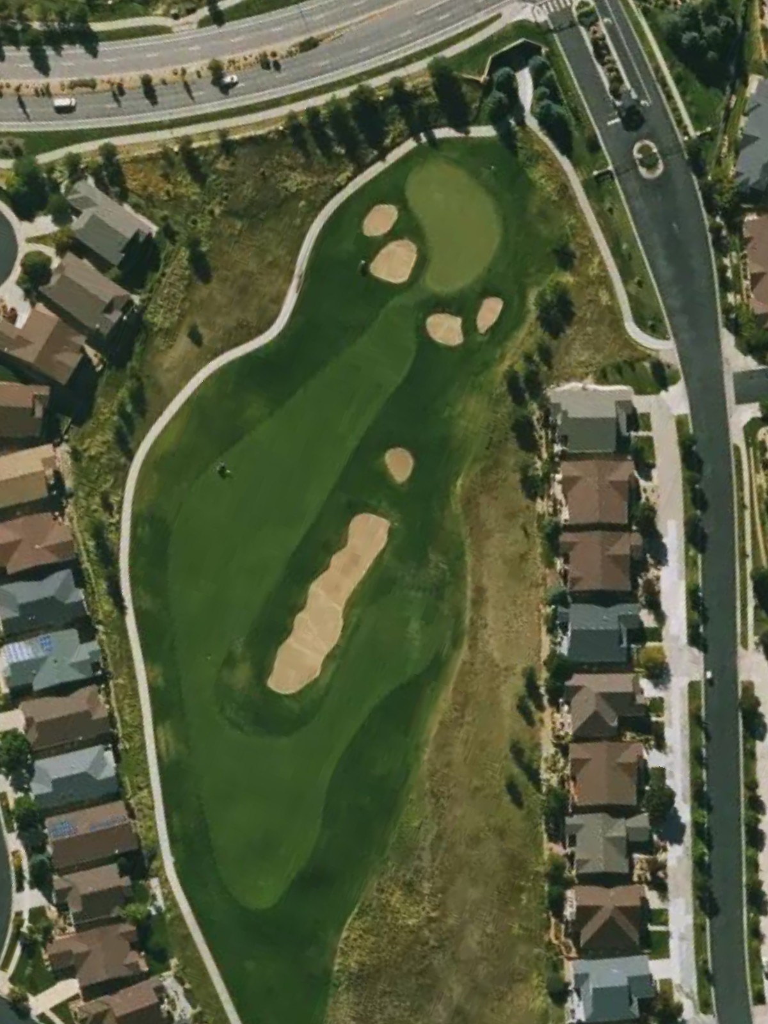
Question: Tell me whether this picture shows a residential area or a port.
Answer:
residential area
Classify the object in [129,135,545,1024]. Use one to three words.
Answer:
golf course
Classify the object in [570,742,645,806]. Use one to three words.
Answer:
house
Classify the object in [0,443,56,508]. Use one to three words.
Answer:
house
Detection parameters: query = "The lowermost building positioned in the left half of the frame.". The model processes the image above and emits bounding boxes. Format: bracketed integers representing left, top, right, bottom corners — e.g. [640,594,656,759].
[75,977,168,1024]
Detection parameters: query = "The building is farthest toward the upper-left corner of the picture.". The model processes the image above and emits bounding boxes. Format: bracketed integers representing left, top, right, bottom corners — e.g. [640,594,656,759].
[67,177,159,260]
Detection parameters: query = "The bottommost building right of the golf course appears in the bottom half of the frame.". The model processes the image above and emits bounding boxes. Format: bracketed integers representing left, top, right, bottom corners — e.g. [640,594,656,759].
[574,958,654,1024]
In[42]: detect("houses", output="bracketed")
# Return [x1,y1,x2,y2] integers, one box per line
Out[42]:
[67,177,159,260]
[0,443,56,508]
[561,531,643,591]
[558,603,642,663]
[551,388,633,451]
[0,510,76,575]
[574,958,654,1024]
[0,630,103,692]
[0,303,102,379]
[28,747,121,811]
[45,256,141,335]
[562,458,635,523]
[567,674,648,737]
[23,689,110,752]
[572,886,646,951]
[0,570,86,638]
[0,382,49,436]
[50,863,132,927]
[45,919,146,984]
[75,977,168,1024]
[566,813,651,875]
[570,742,645,806]
[44,801,137,870]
